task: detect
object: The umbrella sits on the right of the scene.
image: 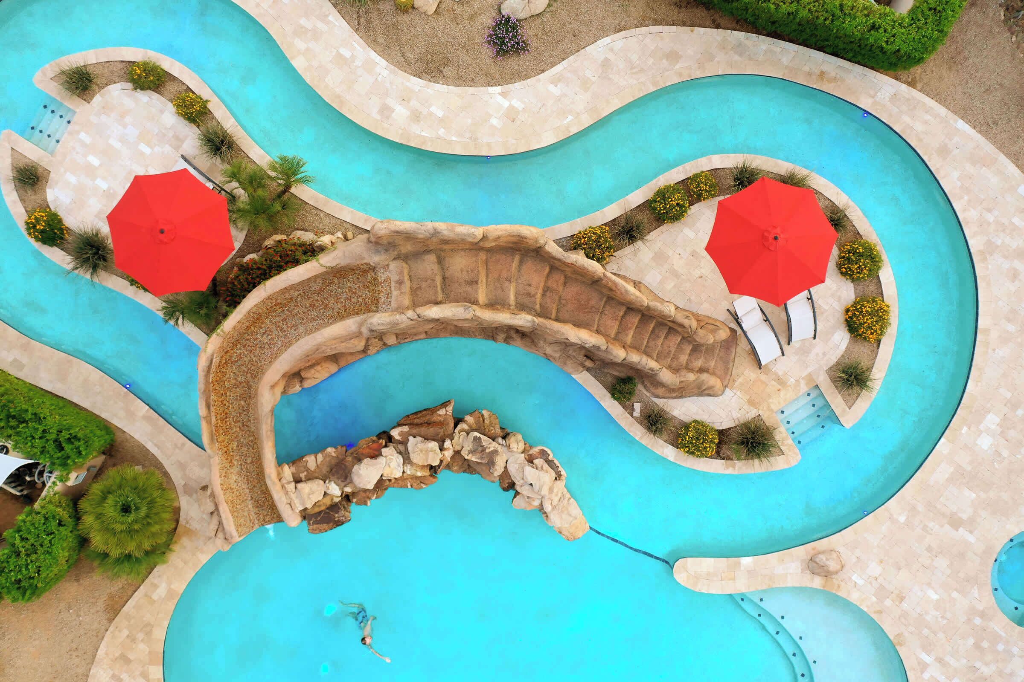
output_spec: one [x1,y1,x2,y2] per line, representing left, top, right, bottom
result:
[705,175,837,308]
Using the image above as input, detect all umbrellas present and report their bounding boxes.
[106,168,236,297]
[705,175,837,308]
